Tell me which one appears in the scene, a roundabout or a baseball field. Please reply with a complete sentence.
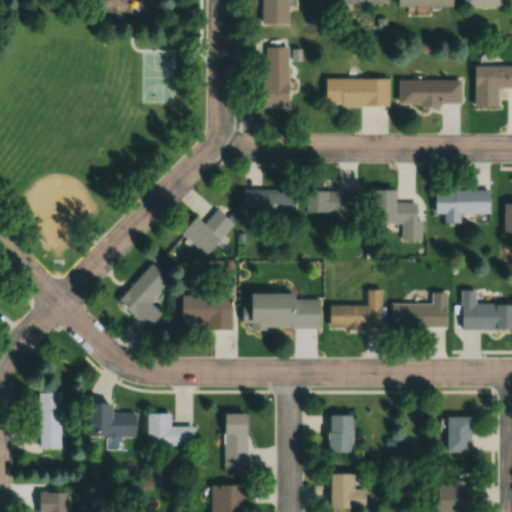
Looking from above, you can make out a baseball field.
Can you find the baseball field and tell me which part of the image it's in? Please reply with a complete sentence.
The baseball field sits in the left section of the image.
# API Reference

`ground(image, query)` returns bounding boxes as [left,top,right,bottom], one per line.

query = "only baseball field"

[25,172,100,262]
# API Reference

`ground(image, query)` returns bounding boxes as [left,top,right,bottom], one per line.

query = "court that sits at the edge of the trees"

[144,52,177,104]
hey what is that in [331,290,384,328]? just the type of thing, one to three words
house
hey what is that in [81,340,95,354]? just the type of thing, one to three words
vehicle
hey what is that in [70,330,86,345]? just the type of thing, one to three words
vehicle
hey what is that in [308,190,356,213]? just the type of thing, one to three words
house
